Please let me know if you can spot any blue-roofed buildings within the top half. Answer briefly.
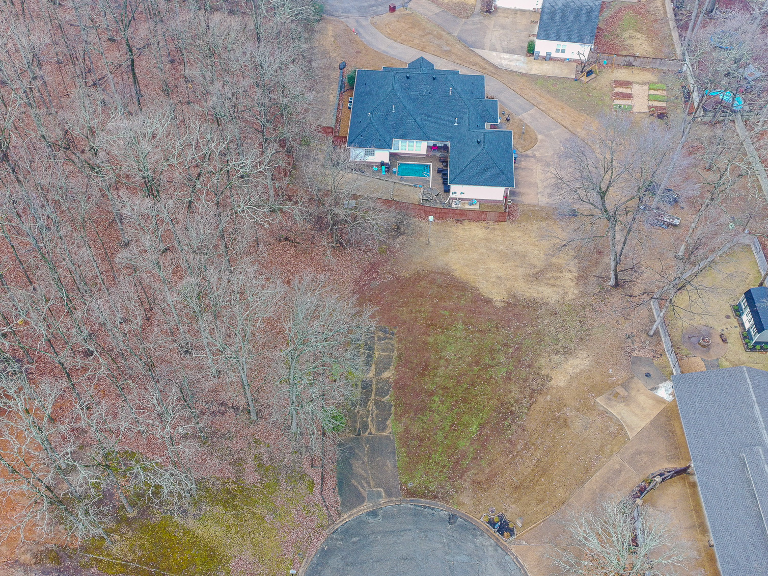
Yes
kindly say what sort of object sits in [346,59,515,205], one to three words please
house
